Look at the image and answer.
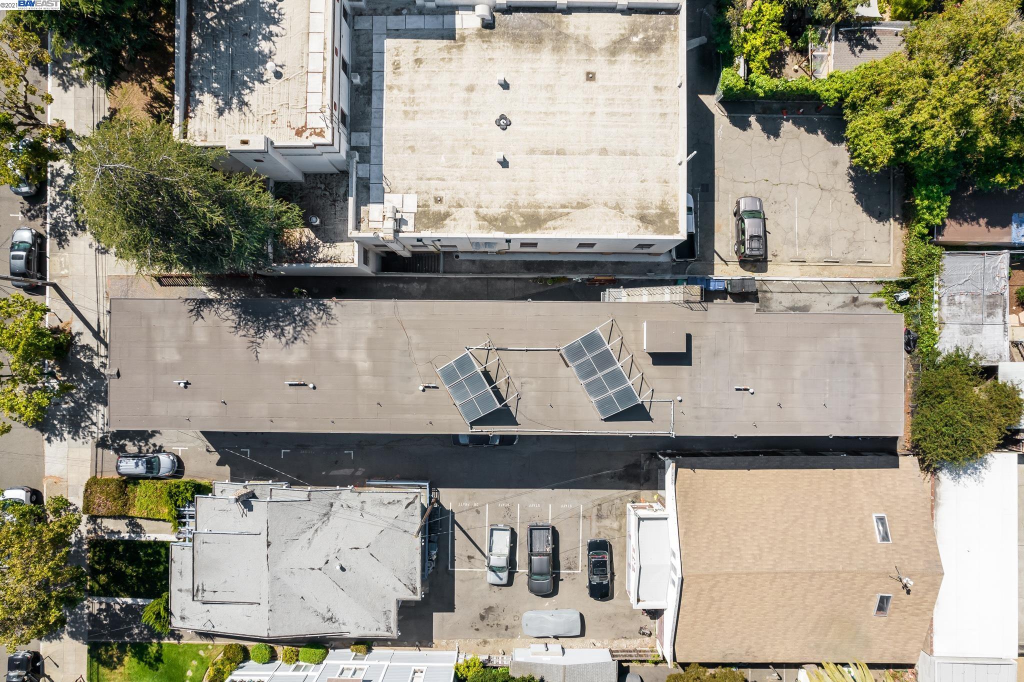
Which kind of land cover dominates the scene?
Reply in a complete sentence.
The largest share of the image is taken up by buildings.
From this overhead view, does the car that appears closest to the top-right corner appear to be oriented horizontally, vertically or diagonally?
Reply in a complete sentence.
In this picture, the car that appears closest to the top-right corner lies vertically.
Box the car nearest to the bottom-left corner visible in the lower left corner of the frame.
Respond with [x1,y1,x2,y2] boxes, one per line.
[9,646,42,682]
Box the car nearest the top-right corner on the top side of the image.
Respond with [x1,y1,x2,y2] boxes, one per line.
[735,198,767,262]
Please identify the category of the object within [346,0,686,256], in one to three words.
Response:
building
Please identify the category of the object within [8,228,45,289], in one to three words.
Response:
car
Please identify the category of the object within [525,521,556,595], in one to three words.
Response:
truck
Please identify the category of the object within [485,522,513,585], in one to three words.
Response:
truck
